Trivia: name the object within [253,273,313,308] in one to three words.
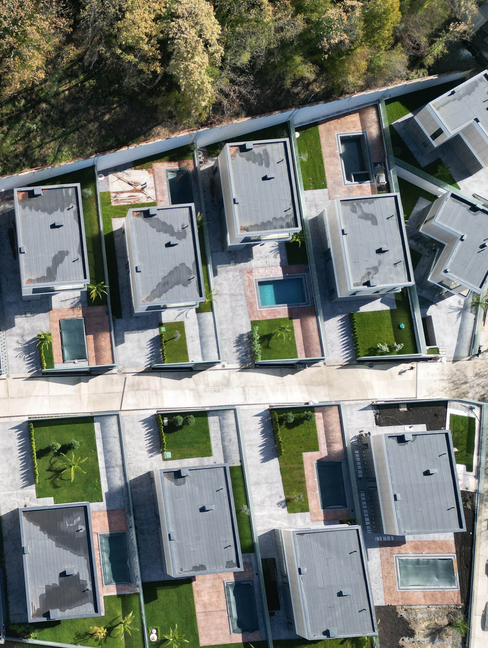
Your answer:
swimming pool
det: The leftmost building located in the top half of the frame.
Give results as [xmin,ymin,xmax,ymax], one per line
[13,183,90,296]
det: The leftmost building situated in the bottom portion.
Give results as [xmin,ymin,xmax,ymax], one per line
[19,502,101,623]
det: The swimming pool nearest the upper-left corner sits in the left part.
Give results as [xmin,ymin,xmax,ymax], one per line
[166,165,195,206]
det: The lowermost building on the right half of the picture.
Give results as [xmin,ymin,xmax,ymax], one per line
[281,524,378,641]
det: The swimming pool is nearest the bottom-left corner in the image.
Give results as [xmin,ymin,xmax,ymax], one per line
[99,532,133,587]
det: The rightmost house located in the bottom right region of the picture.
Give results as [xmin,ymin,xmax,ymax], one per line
[369,430,467,535]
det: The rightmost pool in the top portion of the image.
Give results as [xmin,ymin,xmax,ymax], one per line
[335,131,375,187]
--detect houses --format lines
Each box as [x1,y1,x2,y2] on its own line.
[13,183,90,296]
[218,138,302,246]
[125,204,206,314]
[281,524,378,641]
[155,463,243,577]
[414,190,488,299]
[323,193,415,298]
[369,430,467,535]
[411,70,488,169]
[19,502,101,623]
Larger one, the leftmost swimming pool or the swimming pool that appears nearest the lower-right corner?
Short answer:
the swimming pool that appears nearest the lower-right corner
